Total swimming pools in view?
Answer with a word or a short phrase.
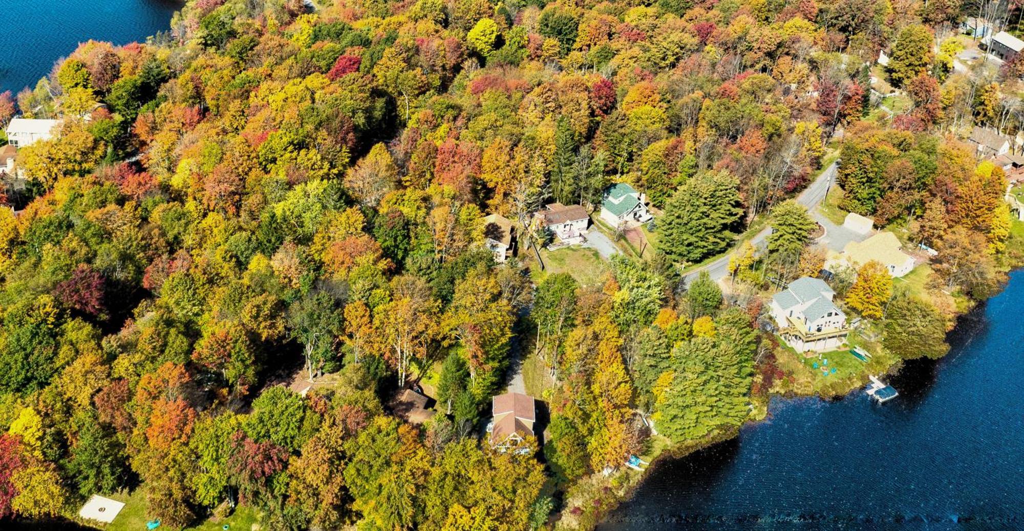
none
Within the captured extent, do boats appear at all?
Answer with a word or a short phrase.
Yes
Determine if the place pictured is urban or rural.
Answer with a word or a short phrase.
rural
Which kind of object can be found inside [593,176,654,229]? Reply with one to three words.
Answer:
building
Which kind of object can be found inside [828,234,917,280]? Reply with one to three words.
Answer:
house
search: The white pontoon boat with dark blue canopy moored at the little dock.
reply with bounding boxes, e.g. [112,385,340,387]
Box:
[872,382,902,407]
